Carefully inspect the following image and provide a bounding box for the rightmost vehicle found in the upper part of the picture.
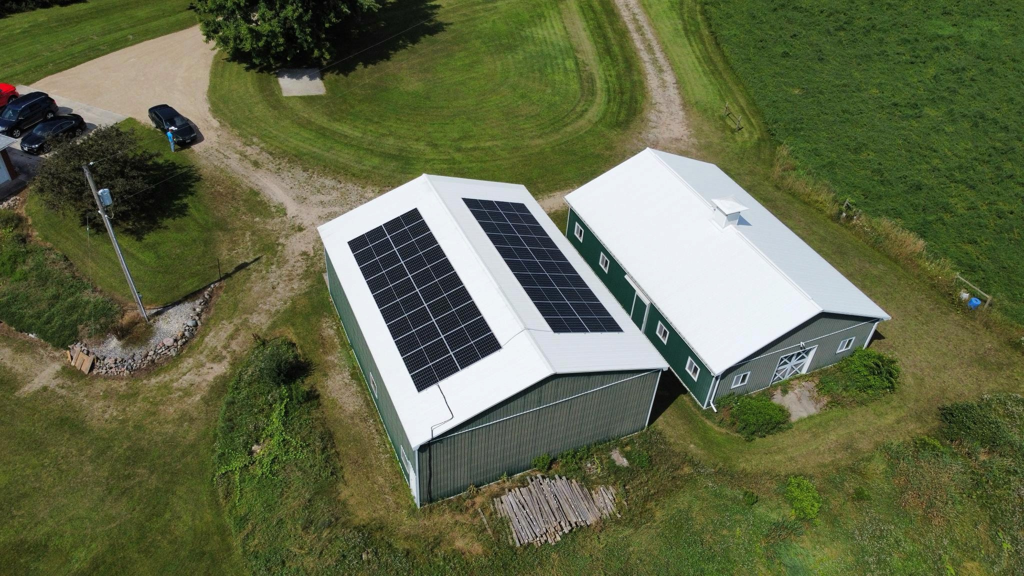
[142,105,194,145]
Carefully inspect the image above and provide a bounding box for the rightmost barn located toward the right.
[563,145,890,414]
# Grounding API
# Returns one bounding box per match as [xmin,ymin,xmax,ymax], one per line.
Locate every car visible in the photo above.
[0,87,57,137]
[16,111,89,153]
[0,76,19,104]
[142,105,194,145]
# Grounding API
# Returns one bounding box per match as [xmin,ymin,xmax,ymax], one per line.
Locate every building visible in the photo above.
[318,172,668,510]
[0,133,22,186]
[563,145,890,414]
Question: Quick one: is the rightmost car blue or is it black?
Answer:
black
